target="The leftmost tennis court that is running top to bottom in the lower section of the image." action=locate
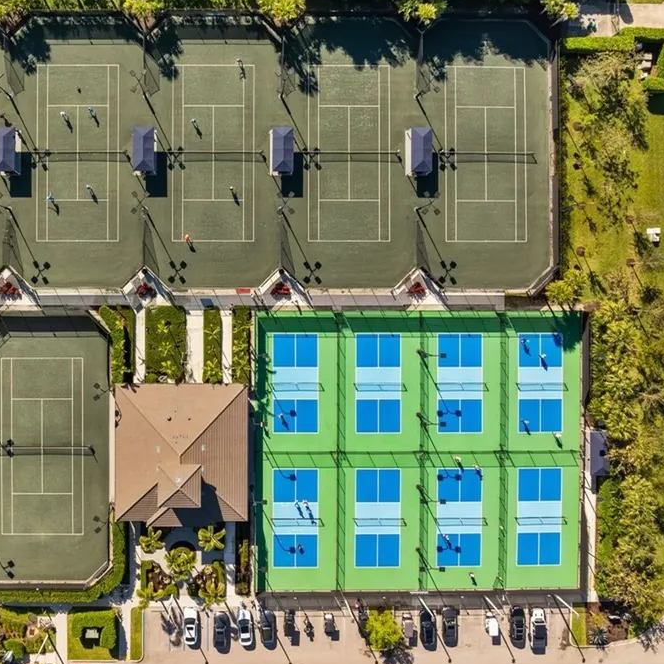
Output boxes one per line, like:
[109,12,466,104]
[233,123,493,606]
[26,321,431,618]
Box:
[0,312,110,583]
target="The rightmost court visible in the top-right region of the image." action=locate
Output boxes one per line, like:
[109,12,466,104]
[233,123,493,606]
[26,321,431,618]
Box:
[417,19,549,288]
